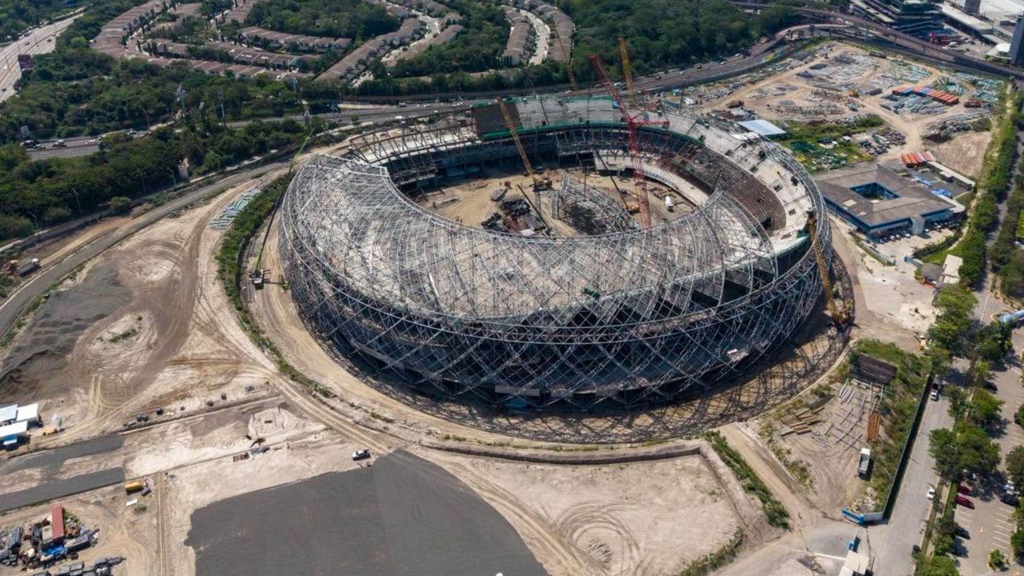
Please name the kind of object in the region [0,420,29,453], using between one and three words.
building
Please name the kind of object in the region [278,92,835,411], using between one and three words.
stadium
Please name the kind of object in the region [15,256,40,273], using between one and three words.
vehicle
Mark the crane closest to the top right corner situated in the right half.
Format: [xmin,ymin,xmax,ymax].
[800,212,861,326]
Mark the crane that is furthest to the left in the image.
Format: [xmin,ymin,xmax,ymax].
[241,134,311,290]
